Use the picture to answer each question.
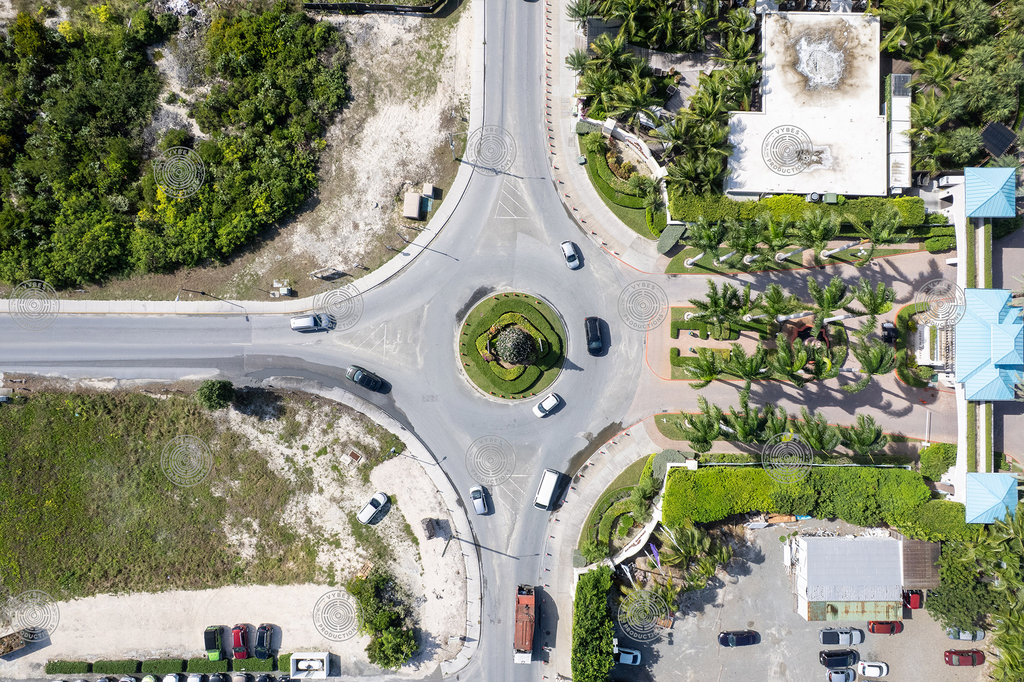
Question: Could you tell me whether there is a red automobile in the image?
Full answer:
Yes, there's a red automobile here.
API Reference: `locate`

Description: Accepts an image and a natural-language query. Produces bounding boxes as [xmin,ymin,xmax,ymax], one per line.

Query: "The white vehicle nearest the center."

[532,390,560,420]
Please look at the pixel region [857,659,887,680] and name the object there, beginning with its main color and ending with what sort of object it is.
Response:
white car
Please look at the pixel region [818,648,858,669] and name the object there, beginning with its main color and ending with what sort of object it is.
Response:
black car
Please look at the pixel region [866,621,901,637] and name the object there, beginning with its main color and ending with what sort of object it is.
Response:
red car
